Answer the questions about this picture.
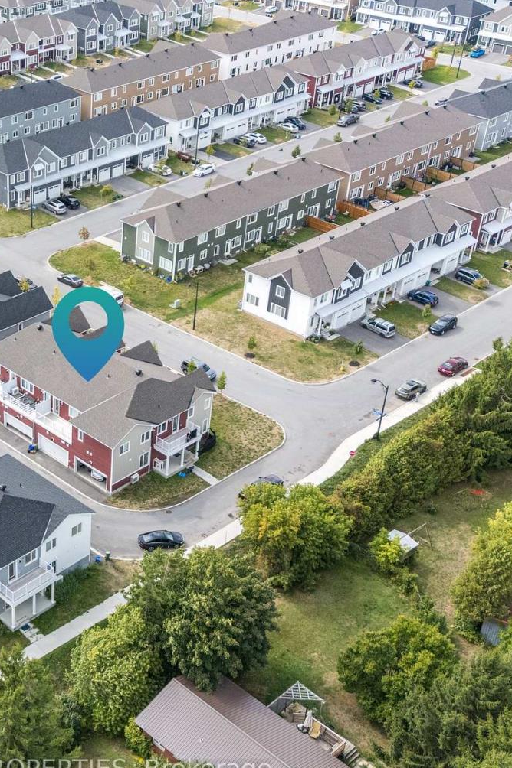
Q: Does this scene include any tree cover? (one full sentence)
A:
Yes, some tree cover is visible.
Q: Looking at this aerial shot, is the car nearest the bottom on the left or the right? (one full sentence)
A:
The car nearest the bottom appears in the left half of the scene.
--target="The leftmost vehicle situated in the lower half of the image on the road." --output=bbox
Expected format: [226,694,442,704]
[140,529,179,556]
